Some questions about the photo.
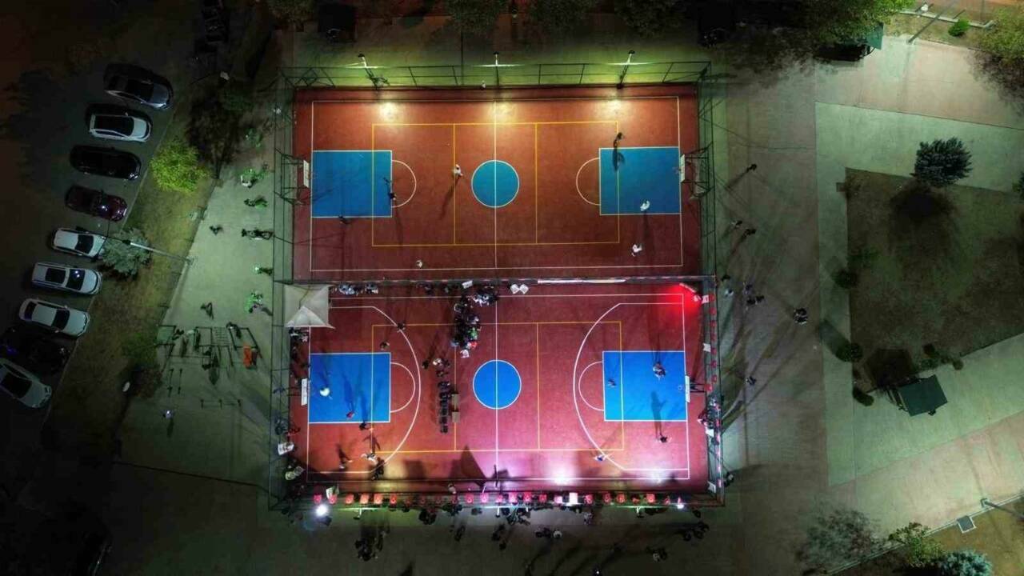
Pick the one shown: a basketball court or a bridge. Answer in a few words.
basketball court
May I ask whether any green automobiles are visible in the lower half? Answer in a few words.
No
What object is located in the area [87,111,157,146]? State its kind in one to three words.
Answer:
car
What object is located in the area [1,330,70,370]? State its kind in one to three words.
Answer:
car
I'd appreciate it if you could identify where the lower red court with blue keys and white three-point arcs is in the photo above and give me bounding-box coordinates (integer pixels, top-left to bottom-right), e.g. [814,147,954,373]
[290,282,707,495]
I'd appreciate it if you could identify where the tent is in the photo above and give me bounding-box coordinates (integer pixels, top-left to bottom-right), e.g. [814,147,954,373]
[288,286,337,327]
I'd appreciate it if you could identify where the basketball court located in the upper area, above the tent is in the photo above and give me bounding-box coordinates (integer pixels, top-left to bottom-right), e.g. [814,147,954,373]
[293,83,701,282]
